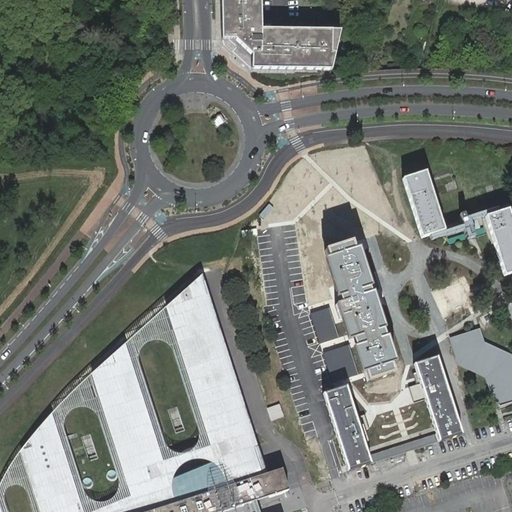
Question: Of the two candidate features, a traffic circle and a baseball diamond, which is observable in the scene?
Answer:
traffic circle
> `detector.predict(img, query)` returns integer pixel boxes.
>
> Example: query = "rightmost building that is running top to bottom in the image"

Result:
[484,206,512,276]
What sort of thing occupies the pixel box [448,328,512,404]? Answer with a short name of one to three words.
building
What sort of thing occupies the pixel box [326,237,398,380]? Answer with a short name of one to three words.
building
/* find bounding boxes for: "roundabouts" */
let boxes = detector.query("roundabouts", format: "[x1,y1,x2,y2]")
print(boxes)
[130,74,262,207]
